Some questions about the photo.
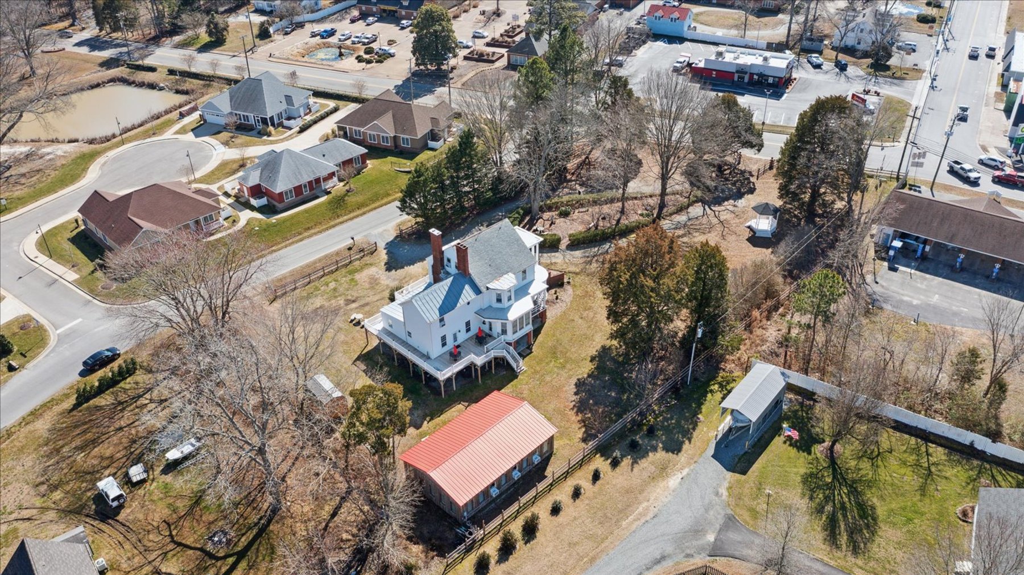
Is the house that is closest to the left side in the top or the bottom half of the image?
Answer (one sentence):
The bottom half of the photo is where the house that is closest to the left side is.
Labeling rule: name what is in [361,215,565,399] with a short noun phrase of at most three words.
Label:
house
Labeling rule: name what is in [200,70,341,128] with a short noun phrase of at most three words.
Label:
house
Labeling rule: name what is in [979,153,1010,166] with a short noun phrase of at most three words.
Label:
vehicle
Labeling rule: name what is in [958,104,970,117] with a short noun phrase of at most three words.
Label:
vehicle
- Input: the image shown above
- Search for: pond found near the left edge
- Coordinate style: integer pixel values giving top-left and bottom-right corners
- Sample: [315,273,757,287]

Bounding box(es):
[0,84,187,141]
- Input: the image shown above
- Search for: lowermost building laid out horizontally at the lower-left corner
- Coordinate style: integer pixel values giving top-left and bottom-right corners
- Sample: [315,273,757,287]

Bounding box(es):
[4,536,100,575]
